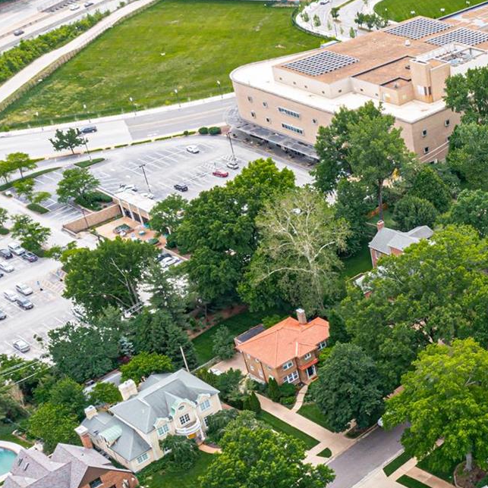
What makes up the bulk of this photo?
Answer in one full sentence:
Most of the picture is covered by trees.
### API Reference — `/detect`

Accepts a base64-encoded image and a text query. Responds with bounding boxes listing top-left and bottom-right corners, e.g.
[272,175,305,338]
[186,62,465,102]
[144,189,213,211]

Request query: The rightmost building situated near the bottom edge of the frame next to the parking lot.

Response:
[75,368,220,477]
